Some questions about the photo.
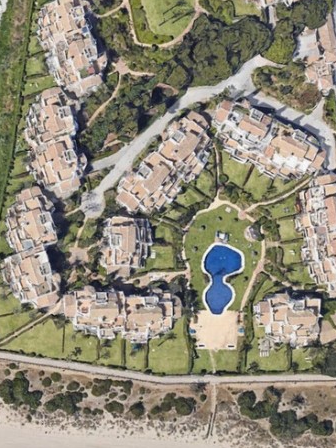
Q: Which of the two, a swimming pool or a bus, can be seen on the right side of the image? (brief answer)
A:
swimming pool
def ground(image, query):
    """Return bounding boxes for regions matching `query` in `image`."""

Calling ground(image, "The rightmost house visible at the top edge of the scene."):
[302,21,336,92]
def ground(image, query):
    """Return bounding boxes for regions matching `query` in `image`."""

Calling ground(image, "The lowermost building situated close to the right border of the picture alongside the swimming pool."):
[253,294,325,343]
